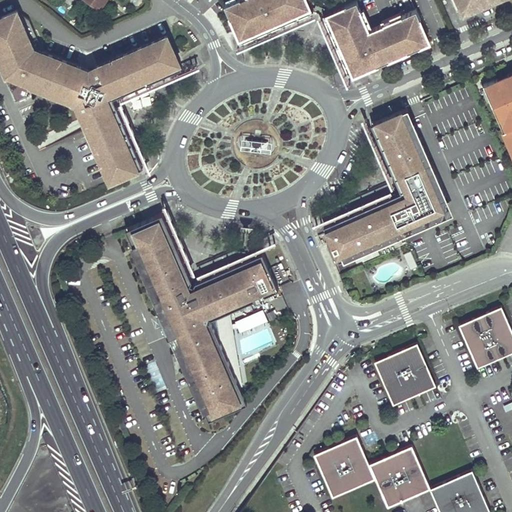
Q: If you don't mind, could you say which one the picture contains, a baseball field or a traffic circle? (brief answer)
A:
traffic circle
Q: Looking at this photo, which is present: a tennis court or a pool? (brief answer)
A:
pool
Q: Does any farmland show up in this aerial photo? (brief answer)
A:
No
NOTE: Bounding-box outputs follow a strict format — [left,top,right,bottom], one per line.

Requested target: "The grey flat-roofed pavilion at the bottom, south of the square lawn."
[430,472,490,512]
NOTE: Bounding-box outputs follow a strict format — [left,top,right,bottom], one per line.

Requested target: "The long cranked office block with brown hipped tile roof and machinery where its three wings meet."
[0,12,200,189]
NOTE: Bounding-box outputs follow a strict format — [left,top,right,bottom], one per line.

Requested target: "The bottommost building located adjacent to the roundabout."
[126,208,287,422]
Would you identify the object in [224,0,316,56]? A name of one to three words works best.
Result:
building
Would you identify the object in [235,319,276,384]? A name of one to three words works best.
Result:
swimming pool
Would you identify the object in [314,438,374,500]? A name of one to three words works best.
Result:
building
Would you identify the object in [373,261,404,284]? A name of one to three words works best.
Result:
swimming pool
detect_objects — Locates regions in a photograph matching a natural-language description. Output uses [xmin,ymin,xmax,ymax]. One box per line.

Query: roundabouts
[164,64,350,222]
